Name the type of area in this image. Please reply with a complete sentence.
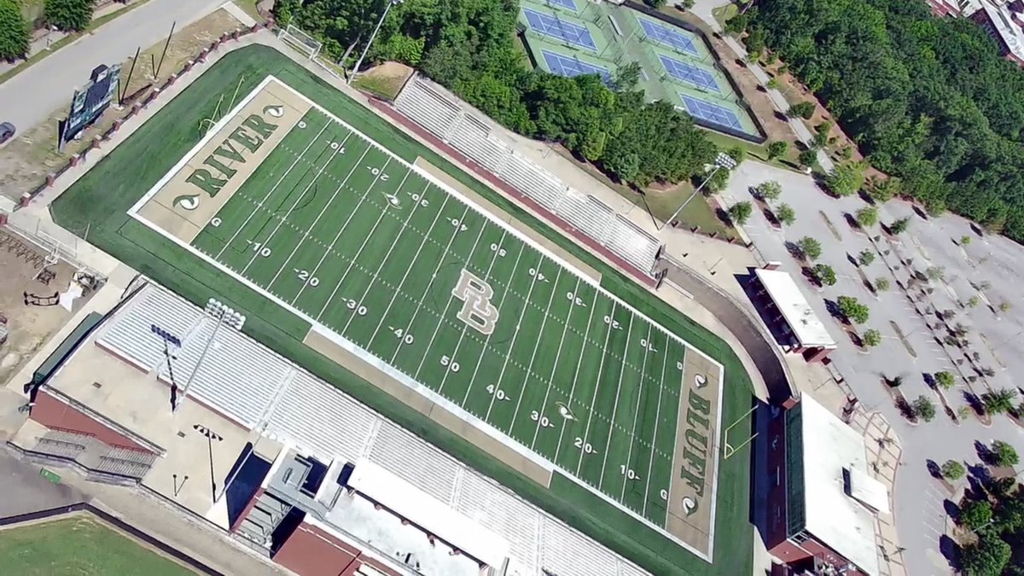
What you see here is a sports ground.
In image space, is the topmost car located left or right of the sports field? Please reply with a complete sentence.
Looking at the photo, the topmost car lies to the left of the sports field.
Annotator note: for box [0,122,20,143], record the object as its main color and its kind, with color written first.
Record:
gray car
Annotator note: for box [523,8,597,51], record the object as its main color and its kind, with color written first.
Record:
blue tennis court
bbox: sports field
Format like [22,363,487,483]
[51,47,756,576]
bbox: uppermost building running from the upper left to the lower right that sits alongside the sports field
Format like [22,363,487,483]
[745,270,836,357]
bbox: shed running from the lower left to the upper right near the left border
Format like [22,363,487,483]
[28,307,105,397]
